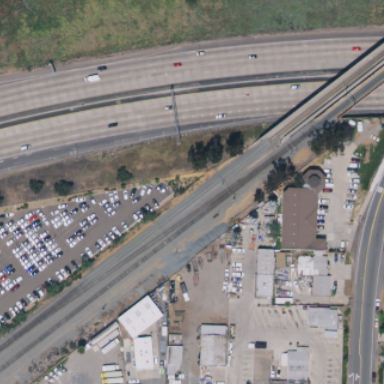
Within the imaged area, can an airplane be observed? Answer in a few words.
No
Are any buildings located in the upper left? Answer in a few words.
No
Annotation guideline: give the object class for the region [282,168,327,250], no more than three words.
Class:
building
